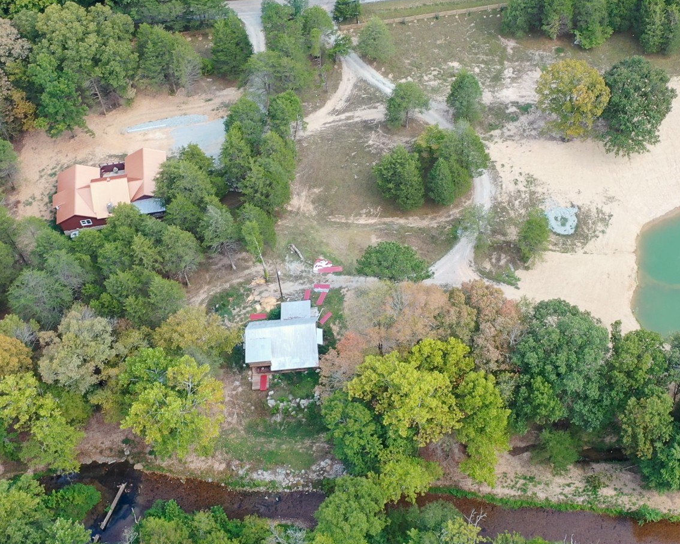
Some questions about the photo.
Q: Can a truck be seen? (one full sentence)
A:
No, I can't see a single truck in this photo.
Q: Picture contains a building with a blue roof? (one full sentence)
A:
No, the frame has no building with a blue roof in it.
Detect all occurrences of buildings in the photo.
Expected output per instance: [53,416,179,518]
[52,146,169,234]
[242,300,327,393]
